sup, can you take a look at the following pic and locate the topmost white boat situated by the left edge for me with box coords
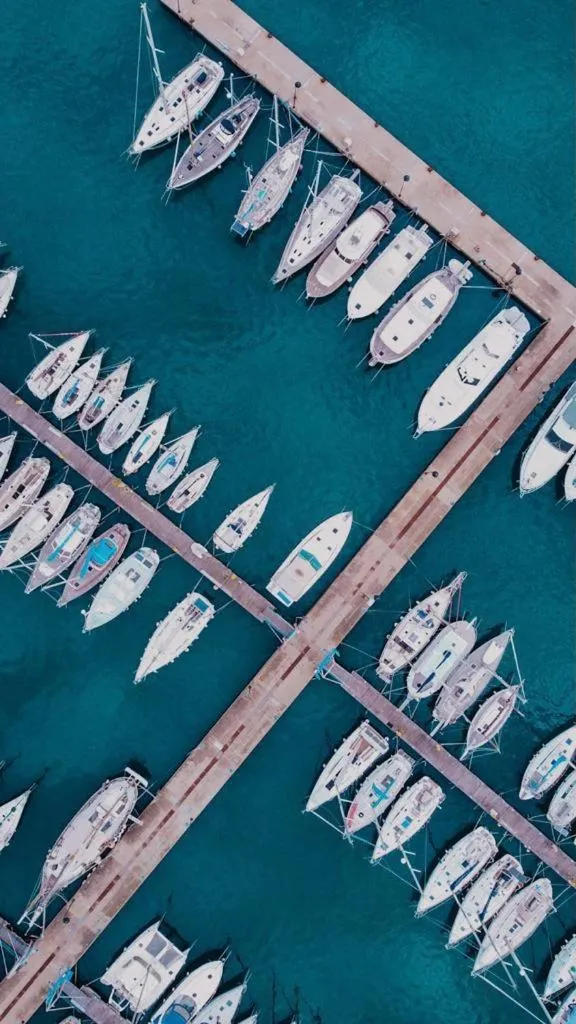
[0,264,28,313]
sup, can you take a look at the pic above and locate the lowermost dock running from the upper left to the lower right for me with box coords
[71,985,130,1024]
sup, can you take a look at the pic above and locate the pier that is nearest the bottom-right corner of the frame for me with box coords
[341,670,576,888]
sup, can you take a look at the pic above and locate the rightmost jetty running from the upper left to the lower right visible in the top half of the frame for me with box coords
[154,0,576,342]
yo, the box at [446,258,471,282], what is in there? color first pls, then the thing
white boat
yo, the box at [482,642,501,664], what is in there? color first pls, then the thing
white boat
